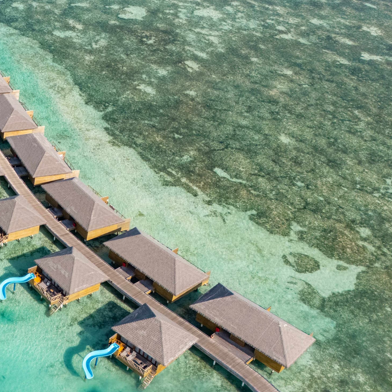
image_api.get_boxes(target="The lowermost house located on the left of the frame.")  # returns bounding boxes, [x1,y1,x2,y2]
[102,304,198,392]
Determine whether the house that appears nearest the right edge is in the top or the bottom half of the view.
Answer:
bottom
